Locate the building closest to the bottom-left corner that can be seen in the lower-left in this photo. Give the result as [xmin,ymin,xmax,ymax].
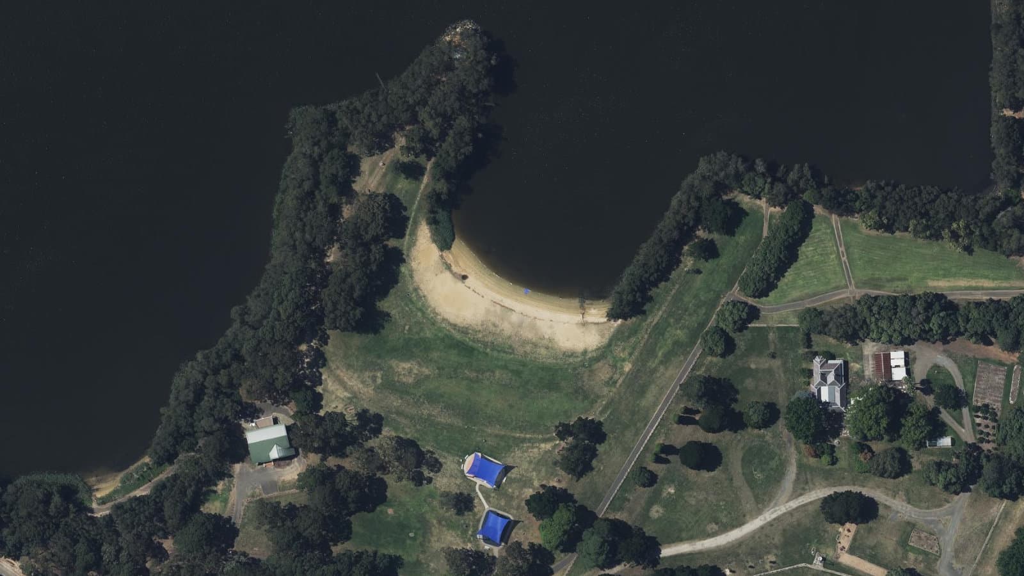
[245,419,297,465]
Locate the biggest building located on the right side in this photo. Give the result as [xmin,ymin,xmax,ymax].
[811,356,845,413]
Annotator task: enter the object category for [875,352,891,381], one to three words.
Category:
shed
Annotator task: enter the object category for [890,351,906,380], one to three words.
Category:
shed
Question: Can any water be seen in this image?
Yes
